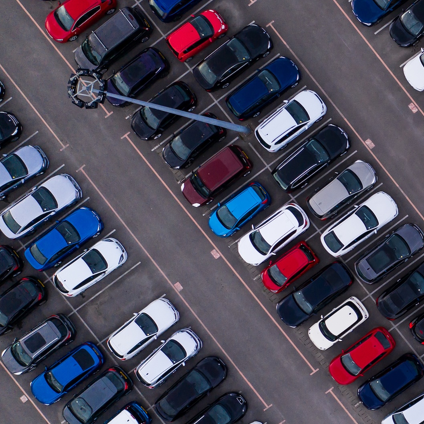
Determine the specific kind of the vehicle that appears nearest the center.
automobile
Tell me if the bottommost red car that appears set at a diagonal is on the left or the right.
right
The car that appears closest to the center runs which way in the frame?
on a diagonal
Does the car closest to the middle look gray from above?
No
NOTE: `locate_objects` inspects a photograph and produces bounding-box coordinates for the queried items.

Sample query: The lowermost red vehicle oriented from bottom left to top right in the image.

[327,326,397,386]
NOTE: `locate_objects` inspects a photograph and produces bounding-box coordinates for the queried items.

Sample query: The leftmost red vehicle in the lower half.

[260,239,320,292]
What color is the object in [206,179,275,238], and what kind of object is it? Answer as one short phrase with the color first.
blue car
